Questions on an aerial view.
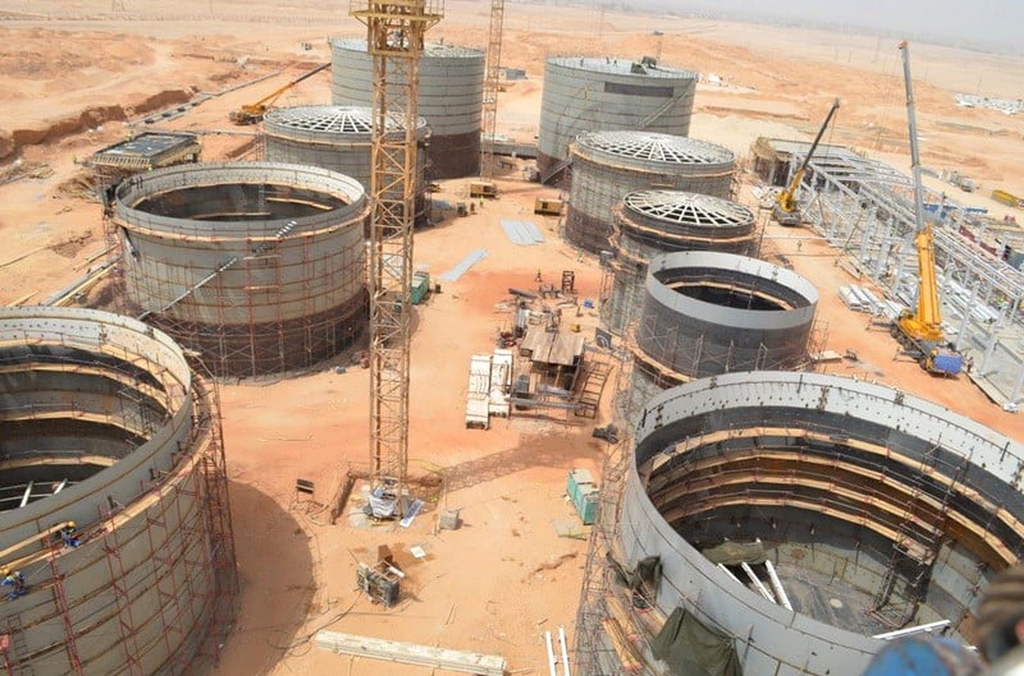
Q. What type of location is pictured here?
industrial area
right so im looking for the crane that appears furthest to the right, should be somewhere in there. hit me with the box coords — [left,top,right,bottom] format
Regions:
[865,41,969,373]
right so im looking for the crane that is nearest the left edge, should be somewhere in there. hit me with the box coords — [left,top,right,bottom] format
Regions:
[222,66,326,123]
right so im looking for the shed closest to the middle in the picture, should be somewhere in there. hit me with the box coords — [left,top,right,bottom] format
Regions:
[521,328,586,392]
